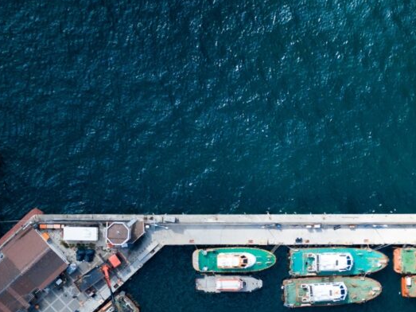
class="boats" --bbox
[100,292,138,312]
[393,246,416,275]
[401,275,416,298]
[196,275,262,294]
[283,277,382,308]
[193,247,277,274]
[290,248,389,278]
